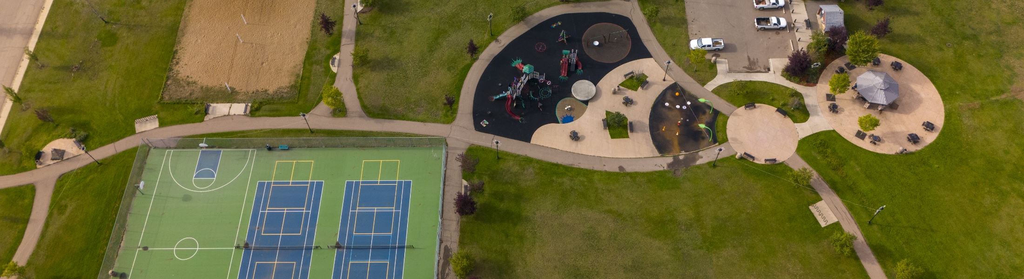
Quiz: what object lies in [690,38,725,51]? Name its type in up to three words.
vehicle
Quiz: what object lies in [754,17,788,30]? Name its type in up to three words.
vehicle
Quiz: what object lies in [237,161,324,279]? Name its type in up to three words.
tennis court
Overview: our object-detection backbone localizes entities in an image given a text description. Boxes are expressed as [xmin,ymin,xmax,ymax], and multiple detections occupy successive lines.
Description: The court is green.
[111,146,443,279]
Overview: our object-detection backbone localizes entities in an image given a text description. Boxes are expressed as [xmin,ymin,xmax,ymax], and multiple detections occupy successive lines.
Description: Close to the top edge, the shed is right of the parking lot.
[815,5,848,34]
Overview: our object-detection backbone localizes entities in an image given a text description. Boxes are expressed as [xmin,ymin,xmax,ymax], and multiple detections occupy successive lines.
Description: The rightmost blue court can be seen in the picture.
[332,160,412,279]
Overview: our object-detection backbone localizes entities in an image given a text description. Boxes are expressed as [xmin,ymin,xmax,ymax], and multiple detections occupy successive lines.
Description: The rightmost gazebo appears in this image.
[852,69,899,112]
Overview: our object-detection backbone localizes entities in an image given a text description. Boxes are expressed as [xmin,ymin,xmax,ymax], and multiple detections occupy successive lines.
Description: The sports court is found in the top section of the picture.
[159,0,315,102]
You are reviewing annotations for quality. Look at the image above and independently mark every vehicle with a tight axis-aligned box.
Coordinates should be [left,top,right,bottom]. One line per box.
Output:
[753,0,786,10]
[690,38,725,51]
[754,17,788,30]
